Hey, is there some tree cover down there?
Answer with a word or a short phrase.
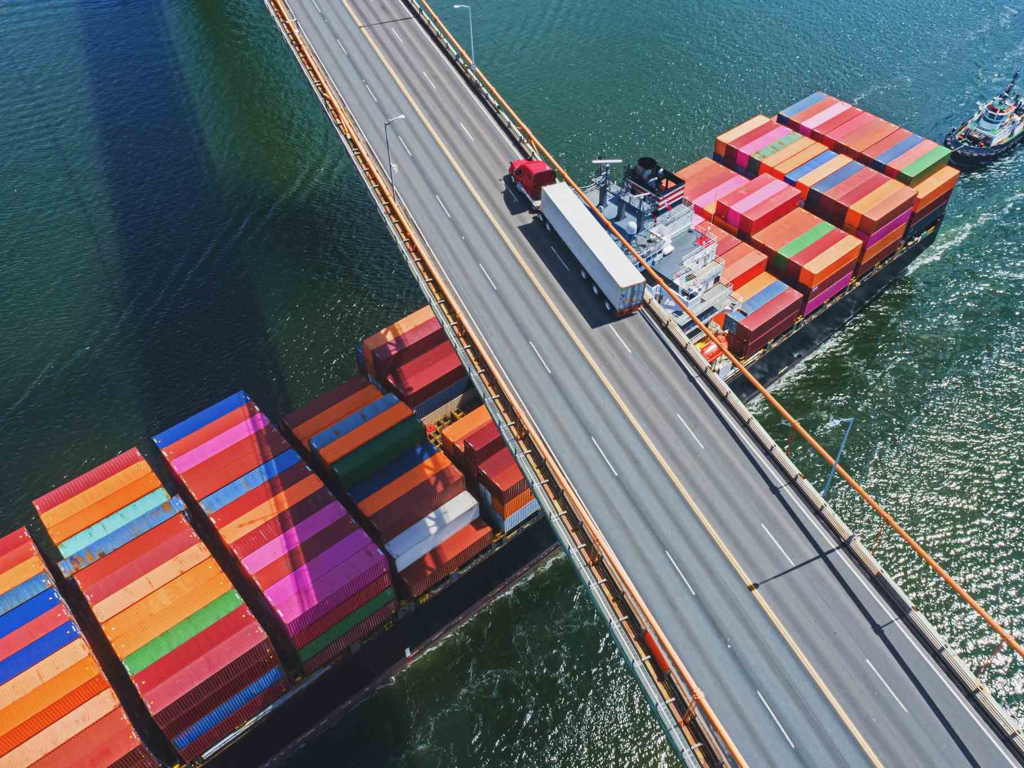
No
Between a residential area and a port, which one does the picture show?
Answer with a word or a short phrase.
port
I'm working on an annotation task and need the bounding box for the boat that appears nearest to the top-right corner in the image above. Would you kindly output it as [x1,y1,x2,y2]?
[940,61,1024,160]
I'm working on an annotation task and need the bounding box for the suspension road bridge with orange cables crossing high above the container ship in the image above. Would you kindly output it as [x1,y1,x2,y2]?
[257,0,1024,768]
